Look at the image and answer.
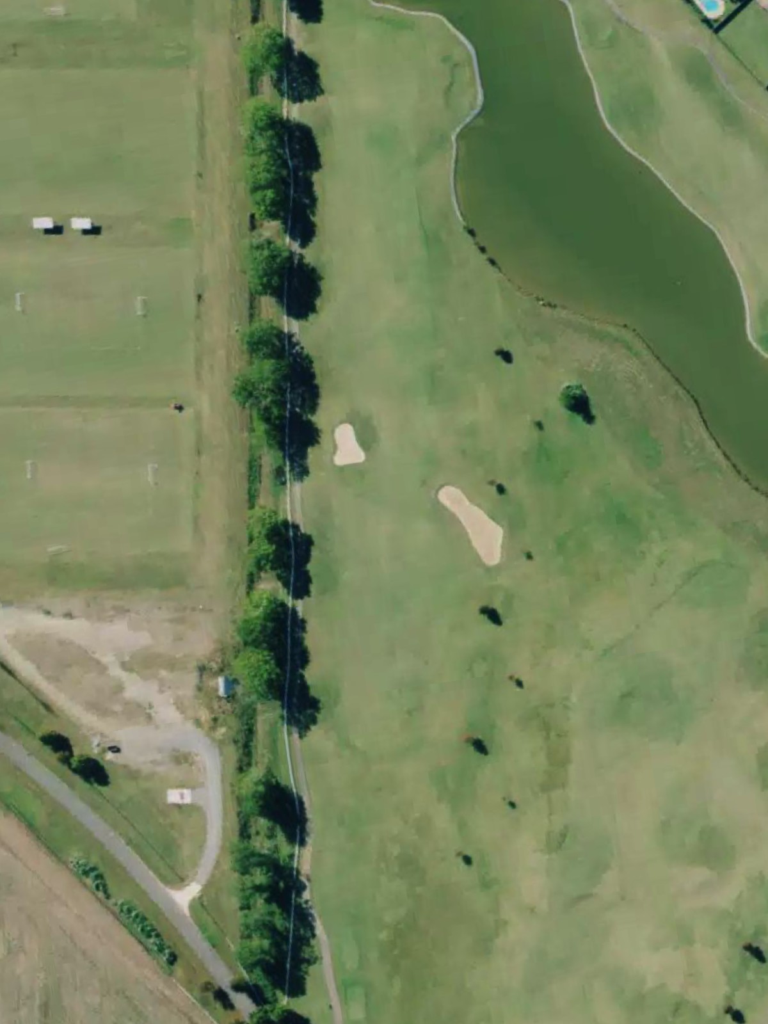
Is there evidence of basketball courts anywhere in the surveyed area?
No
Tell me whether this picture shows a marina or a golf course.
golf course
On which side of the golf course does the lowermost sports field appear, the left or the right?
on the left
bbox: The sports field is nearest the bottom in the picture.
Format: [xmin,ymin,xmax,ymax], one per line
[0,410,192,558]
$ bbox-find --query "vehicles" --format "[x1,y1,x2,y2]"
[170,405,179,410]
[107,744,118,751]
